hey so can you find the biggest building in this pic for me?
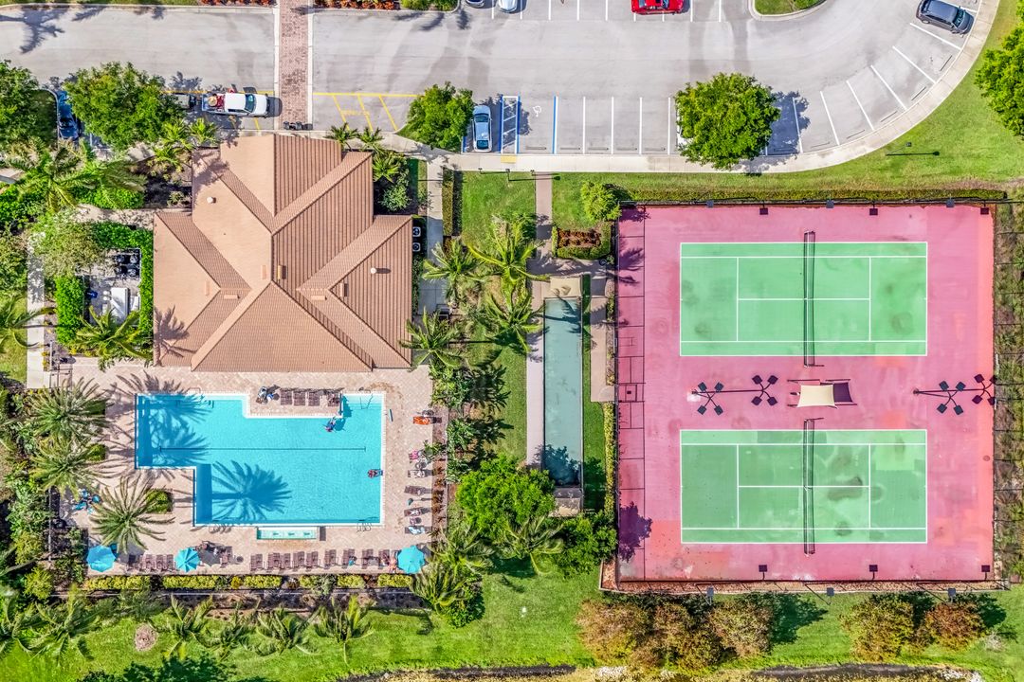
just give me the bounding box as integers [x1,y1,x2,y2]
[153,133,413,371]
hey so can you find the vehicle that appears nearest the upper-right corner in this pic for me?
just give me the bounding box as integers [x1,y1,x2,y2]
[915,0,971,35]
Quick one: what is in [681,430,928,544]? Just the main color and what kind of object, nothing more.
green tennis court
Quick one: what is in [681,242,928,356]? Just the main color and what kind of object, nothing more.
green tennis court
